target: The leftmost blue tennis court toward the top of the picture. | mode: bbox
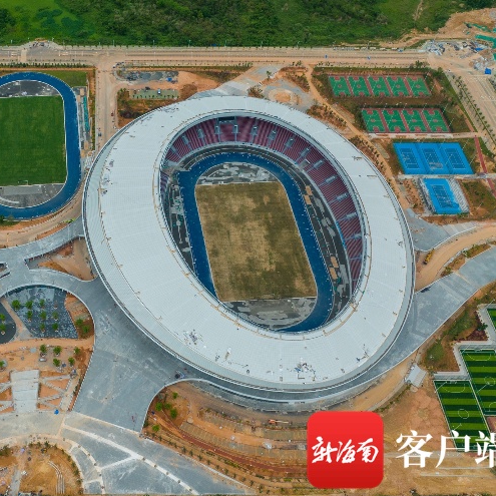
[393,143,429,174]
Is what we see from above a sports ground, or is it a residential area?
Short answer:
sports ground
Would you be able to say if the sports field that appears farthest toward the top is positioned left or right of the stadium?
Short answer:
to the left of it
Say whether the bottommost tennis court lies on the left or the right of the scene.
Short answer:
right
